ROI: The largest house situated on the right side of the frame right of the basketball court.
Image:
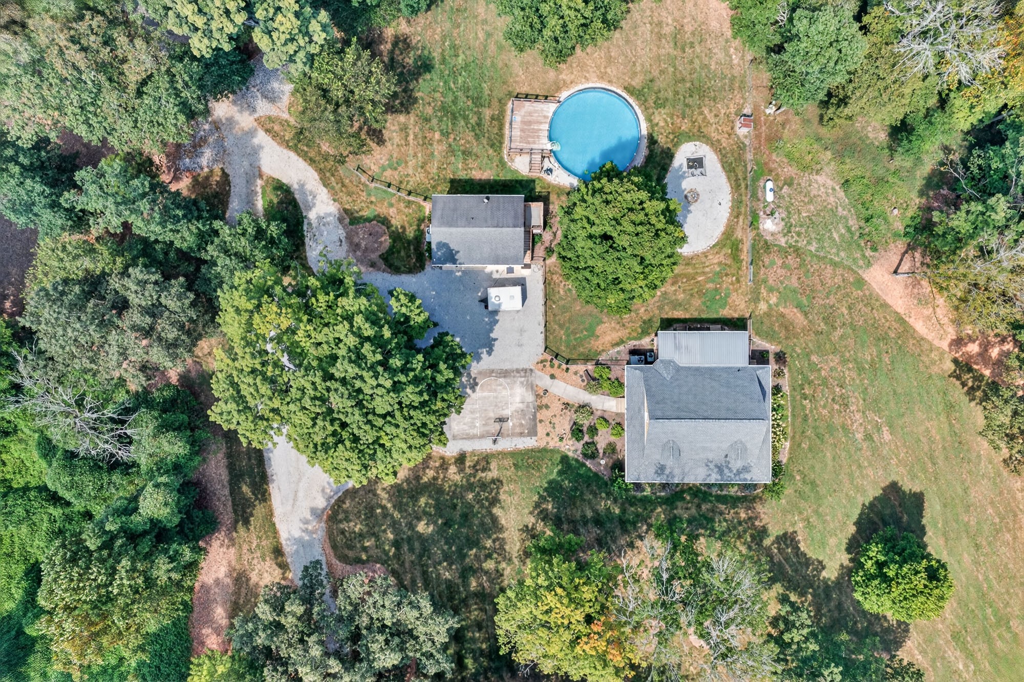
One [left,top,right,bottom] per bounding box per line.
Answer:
[624,326,772,483]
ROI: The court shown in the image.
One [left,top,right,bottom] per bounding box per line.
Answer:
[450,369,537,438]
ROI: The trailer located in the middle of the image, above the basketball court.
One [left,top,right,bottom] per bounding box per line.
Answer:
[479,286,523,312]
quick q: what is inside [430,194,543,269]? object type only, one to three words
building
